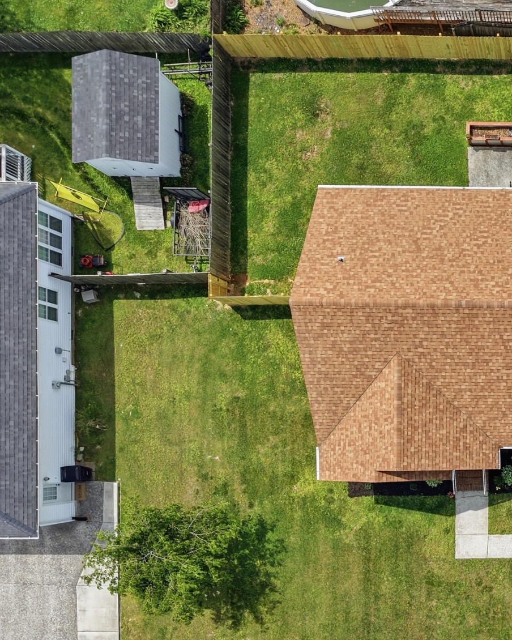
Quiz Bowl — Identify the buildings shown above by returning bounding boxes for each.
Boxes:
[291,186,512,495]
[0,178,77,543]
[70,48,181,176]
